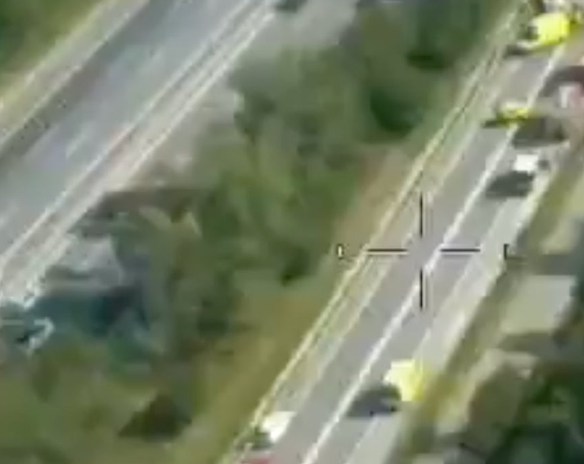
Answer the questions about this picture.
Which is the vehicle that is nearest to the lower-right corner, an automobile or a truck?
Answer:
truck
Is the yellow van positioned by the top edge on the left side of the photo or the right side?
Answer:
right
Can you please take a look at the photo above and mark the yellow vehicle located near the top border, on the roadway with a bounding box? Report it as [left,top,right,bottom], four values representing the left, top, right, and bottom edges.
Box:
[525,11,572,49]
